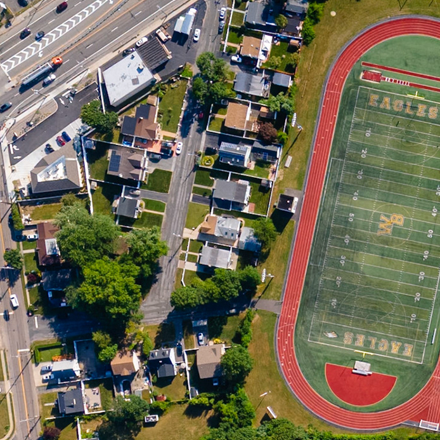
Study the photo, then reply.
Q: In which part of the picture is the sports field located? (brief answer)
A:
right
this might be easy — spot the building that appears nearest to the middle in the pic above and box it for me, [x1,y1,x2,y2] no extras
[200,216,244,240]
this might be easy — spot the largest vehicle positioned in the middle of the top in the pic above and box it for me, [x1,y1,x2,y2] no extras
[181,10,195,33]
